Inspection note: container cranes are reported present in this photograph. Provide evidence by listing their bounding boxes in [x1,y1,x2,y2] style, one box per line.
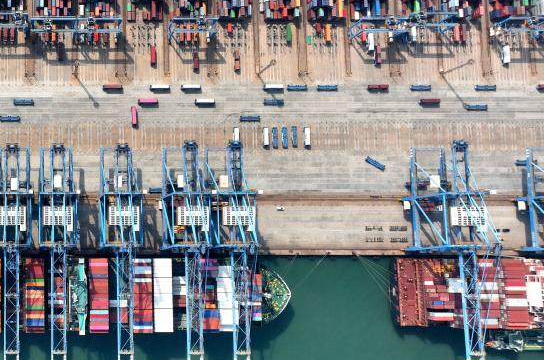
[92,139,147,360]
[0,140,35,360]
[513,147,544,252]
[398,139,505,360]
[0,11,30,38]
[154,139,216,360]
[34,140,82,360]
[31,16,77,43]
[194,139,262,360]
[75,16,122,43]
[165,17,217,44]
[349,16,410,43]
[398,10,461,37]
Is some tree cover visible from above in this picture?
No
